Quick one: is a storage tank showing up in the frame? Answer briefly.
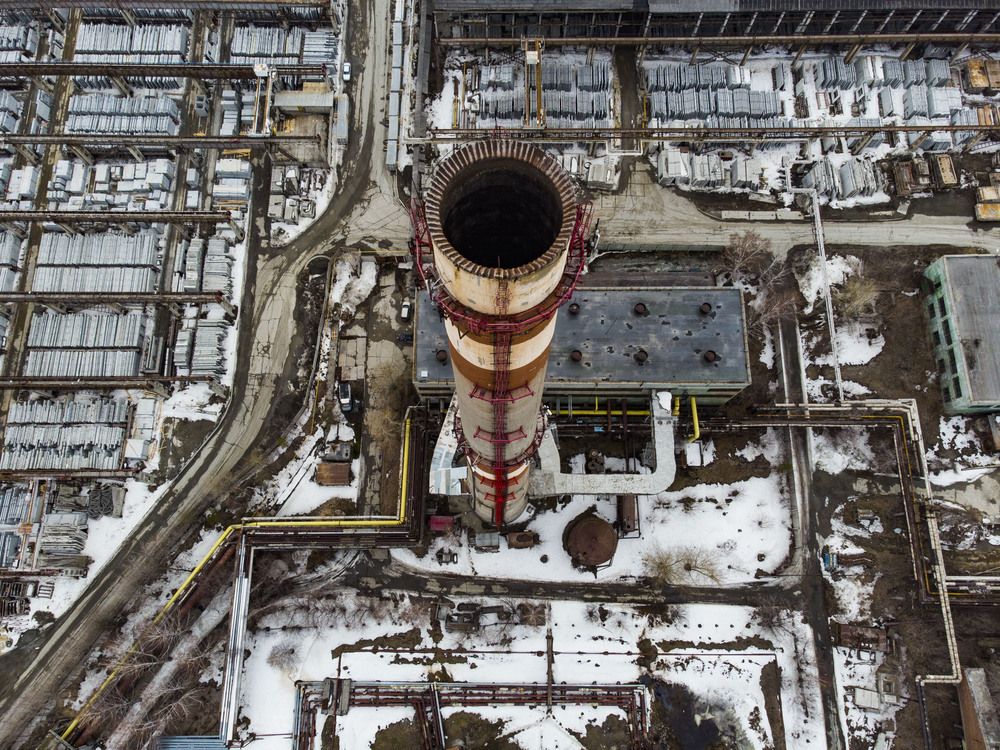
Yes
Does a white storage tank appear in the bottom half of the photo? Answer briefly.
No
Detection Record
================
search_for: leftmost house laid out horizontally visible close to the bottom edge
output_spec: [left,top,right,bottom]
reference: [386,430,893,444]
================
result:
[513,717,585,750]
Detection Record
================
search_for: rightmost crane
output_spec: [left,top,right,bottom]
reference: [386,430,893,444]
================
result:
[521,36,546,133]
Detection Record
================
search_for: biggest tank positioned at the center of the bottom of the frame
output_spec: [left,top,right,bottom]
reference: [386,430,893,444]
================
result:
[562,513,617,580]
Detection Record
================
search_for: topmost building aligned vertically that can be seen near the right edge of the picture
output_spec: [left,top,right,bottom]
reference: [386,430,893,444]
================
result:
[923,256,1000,411]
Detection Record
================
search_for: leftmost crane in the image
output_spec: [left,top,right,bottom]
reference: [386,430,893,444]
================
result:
[11,470,63,576]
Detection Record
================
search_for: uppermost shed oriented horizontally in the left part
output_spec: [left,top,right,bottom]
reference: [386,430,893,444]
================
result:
[273,91,336,118]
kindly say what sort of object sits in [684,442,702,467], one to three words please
building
